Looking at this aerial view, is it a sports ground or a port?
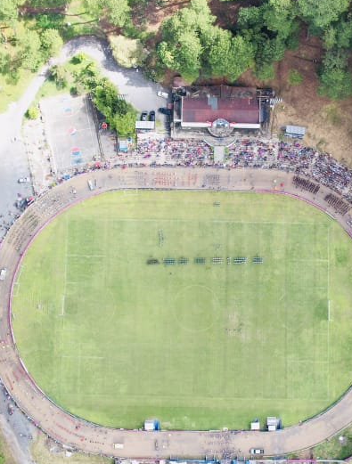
sports ground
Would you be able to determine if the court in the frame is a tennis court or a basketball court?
basketball court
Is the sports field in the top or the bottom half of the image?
bottom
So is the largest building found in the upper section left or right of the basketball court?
to the right of it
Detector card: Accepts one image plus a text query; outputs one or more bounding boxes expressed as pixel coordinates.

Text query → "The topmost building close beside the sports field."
[172,84,275,163]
